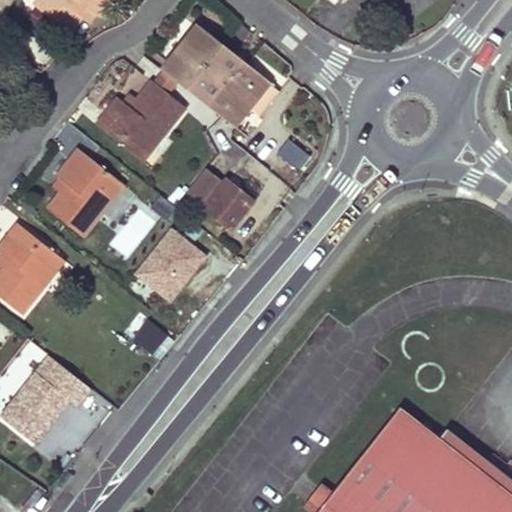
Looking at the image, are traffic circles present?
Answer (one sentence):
Yes, a traffic circle appears in the view.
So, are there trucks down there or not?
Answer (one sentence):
Yes, I can see a truck in this picture.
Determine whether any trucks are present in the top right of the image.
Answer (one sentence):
Yes, I can see a truck in the top right of the image.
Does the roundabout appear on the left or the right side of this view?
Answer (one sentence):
The roundabout appears in the right half of the scene.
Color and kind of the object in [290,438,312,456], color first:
white car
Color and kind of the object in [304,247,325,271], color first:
white vehicle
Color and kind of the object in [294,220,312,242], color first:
gray car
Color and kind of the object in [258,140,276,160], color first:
white car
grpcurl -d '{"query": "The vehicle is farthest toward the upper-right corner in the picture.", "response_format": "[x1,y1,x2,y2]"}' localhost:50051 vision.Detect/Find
[468,30,501,72]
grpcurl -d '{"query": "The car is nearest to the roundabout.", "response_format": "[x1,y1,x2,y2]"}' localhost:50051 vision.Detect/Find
[390,76,410,94]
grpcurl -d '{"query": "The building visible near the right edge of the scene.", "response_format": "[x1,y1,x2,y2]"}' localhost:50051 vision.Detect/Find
[318,408,512,512]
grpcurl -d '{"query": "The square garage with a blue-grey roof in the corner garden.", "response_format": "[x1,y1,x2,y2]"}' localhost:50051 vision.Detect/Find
[277,137,312,170]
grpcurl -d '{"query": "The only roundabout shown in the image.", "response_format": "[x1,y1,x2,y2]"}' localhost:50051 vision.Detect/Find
[385,92,438,145]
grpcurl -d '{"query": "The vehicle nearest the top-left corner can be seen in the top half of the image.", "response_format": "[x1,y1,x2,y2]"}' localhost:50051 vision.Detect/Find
[10,170,27,192]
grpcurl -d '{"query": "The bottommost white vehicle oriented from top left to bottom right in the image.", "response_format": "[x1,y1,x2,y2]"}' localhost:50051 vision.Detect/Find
[261,485,282,503]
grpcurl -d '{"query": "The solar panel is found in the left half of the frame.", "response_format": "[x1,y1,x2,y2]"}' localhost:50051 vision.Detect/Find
[72,190,110,232]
